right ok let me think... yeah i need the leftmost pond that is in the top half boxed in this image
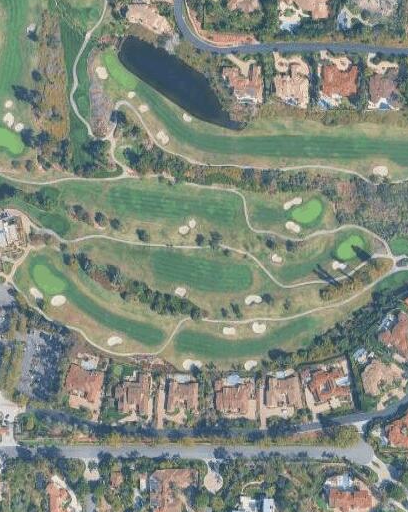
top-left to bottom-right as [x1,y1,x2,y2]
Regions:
[119,35,241,128]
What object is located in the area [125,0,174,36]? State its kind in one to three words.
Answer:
house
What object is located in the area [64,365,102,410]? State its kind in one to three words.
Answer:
house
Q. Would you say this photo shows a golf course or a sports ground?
golf course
